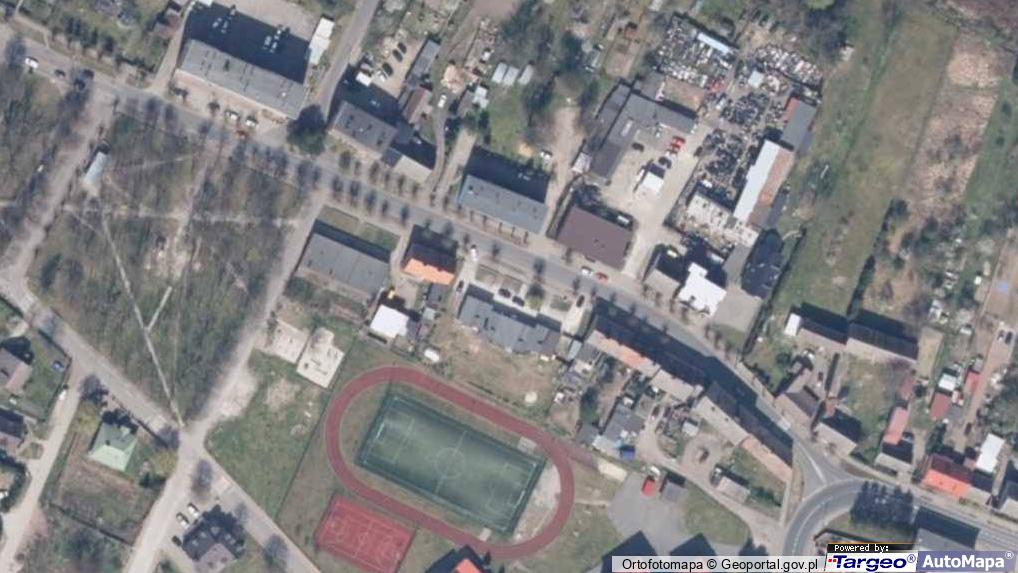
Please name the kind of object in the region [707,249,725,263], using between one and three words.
vehicle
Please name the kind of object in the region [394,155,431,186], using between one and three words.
house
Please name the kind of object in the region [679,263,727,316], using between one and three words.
building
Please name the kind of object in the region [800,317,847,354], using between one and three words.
barn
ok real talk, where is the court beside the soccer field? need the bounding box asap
[316,494,415,573]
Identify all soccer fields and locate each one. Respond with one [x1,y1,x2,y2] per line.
[356,389,546,533]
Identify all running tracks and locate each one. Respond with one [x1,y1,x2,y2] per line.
[324,362,599,559]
